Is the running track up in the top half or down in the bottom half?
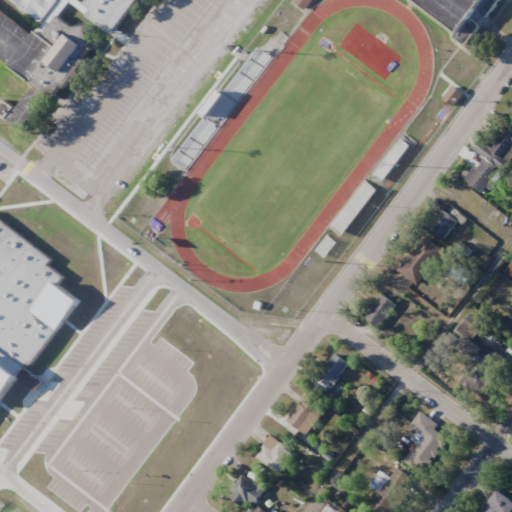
top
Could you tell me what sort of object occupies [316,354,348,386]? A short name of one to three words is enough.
house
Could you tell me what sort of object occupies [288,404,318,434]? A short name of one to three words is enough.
house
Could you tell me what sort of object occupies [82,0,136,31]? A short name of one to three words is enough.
building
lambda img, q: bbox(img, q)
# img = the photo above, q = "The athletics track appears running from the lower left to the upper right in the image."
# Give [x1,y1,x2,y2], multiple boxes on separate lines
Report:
[156,0,436,298]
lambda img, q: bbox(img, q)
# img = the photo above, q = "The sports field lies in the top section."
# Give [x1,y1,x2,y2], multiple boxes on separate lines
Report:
[186,2,420,282]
